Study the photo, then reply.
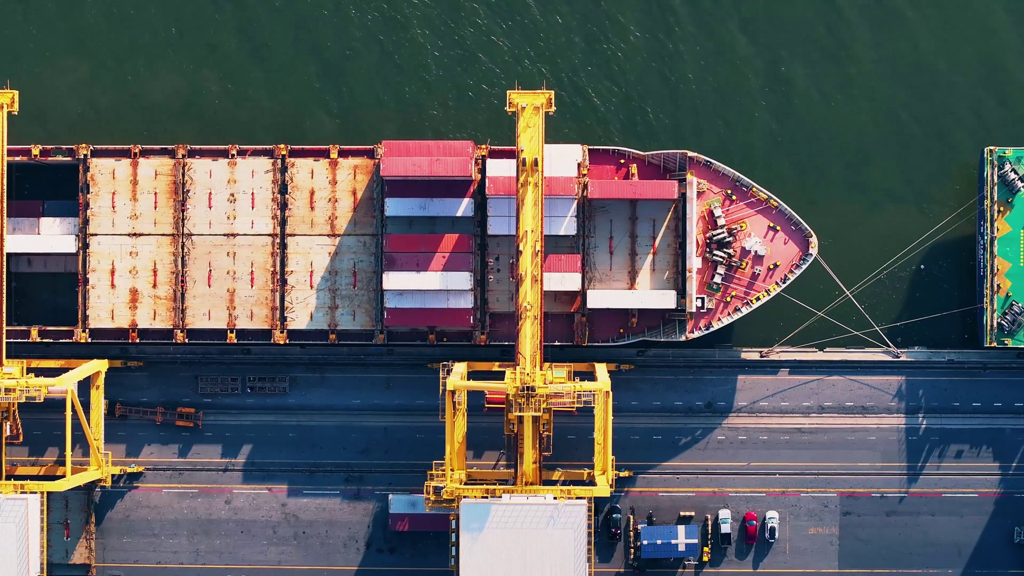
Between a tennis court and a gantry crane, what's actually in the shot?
gantry crane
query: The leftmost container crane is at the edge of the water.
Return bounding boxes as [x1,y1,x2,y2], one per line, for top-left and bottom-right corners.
[0,82,145,576]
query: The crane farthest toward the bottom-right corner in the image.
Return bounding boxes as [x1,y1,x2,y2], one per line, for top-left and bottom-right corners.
[416,78,636,576]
